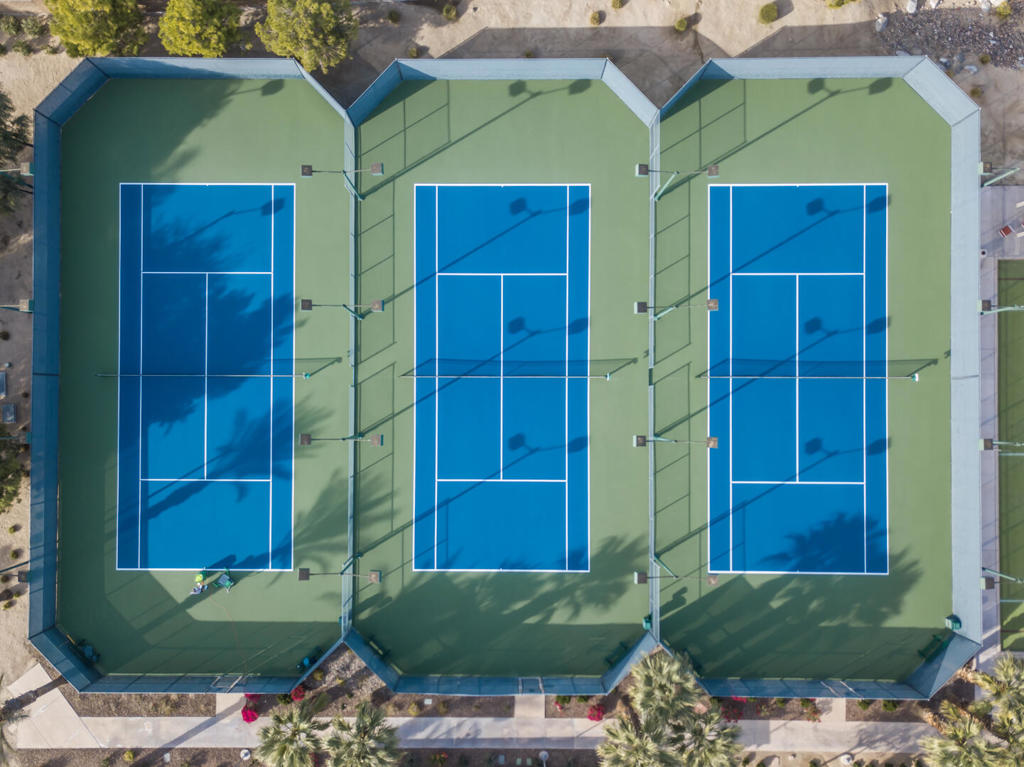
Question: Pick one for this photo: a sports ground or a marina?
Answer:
sports ground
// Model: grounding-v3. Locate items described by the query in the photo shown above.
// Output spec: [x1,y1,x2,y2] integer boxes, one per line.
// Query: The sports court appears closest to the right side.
[996,259,1024,653]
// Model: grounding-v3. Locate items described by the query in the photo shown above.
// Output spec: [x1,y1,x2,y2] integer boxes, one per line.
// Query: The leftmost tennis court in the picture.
[56,79,354,676]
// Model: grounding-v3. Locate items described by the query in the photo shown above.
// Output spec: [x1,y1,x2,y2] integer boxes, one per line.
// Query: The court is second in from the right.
[650,78,954,683]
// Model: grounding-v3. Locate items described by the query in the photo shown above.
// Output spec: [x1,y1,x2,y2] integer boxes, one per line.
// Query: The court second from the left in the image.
[352,79,649,678]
